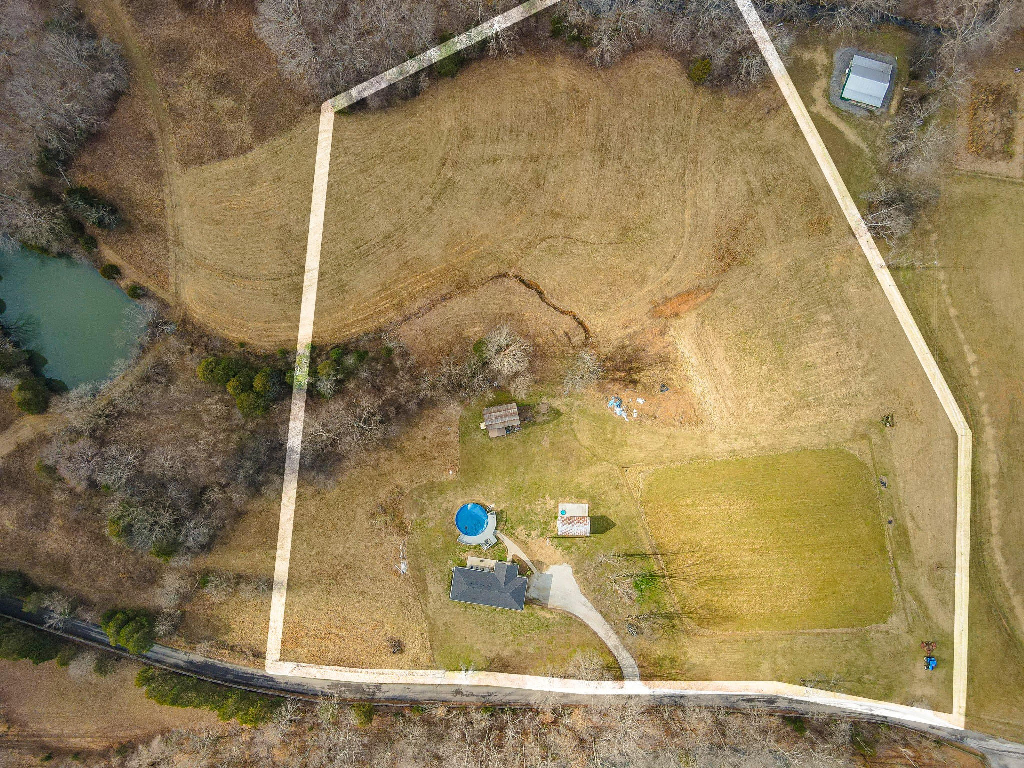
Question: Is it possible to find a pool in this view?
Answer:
Yes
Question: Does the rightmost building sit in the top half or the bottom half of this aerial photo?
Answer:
top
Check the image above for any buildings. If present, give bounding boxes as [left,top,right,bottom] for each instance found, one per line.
[558,516,591,536]
[483,403,522,438]
[838,55,893,115]
[450,560,529,612]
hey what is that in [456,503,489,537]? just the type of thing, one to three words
swimming pool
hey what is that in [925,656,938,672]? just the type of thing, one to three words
vehicle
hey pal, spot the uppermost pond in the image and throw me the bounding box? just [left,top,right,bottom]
[0,240,144,389]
